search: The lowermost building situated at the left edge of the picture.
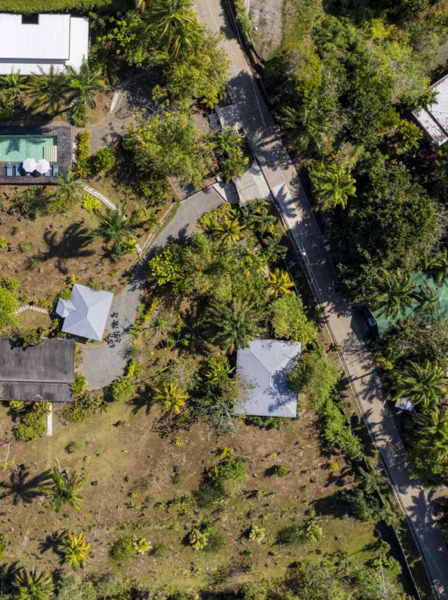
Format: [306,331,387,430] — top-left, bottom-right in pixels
[0,338,76,403]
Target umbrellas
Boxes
[21,157,37,174]
[37,159,50,173]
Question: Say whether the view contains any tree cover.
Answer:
Yes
